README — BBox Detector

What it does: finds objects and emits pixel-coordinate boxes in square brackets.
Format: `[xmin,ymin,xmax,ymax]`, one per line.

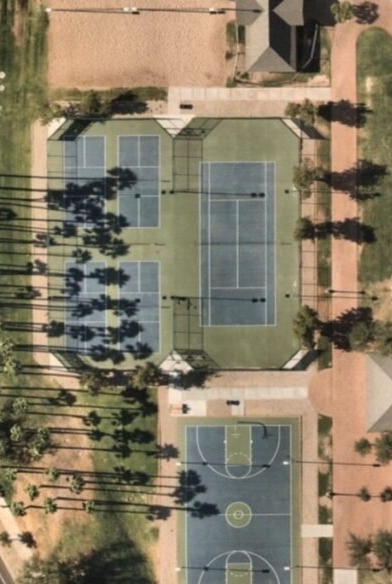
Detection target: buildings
[366,352,392,432]
[235,0,303,72]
